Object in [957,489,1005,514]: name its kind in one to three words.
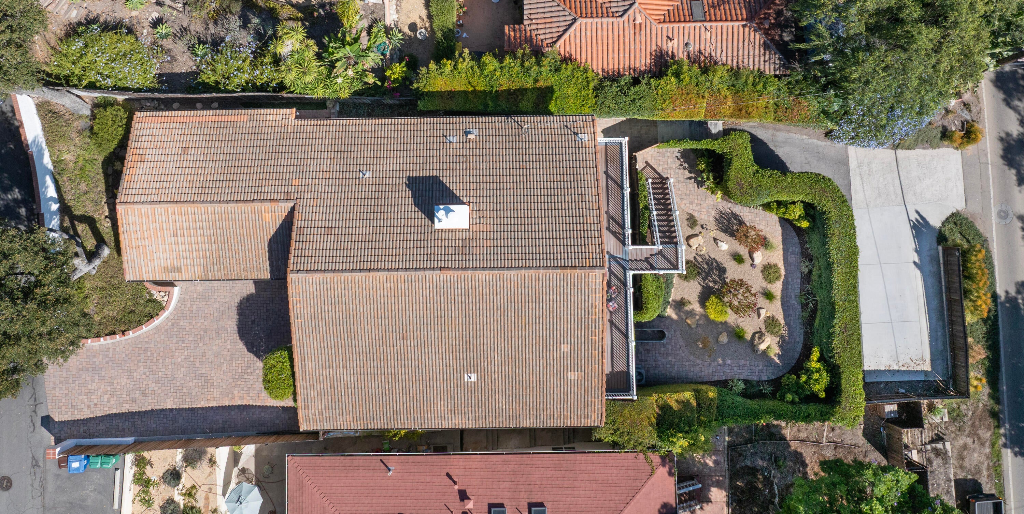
truck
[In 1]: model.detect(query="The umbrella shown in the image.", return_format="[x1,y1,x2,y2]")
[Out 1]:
[222,476,268,514]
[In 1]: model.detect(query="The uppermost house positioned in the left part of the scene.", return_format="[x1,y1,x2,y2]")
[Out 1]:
[113,106,609,435]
